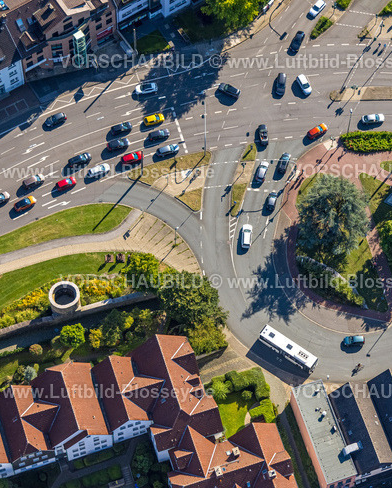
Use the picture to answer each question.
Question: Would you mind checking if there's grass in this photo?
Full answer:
Yes, grass can be seen from above here.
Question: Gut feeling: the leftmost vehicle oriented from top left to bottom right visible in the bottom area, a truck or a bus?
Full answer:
The leftmost vehicle oriented from top left to bottom right visible in the bottom area can be classified as a bus.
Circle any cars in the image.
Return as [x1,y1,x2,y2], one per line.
[110,122,133,136]
[156,142,180,156]
[120,150,144,164]
[85,163,111,179]
[44,113,67,129]
[309,0,326,17]
[361,112,384,124]
[296,75,311,95]
[143,113,165,126]
[23,174,45,189]
[216,83,242,100]
[241,224,253,249]
[290,30,304,53]
[255,162,269,184]
[13,196,36,212]
[135,82,158,96]
[106,137,130,151]
[67,152,92,168]
[275,73,286,96]
[147,128,171,142]
[266,192,278,213]
[306,124,327,139]
[257,126,268,147]
[53,176,77,193]
[0,190,11,204]
[343,335,365,347]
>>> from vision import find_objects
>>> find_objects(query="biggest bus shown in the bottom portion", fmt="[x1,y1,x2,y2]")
[258,324,319,375]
